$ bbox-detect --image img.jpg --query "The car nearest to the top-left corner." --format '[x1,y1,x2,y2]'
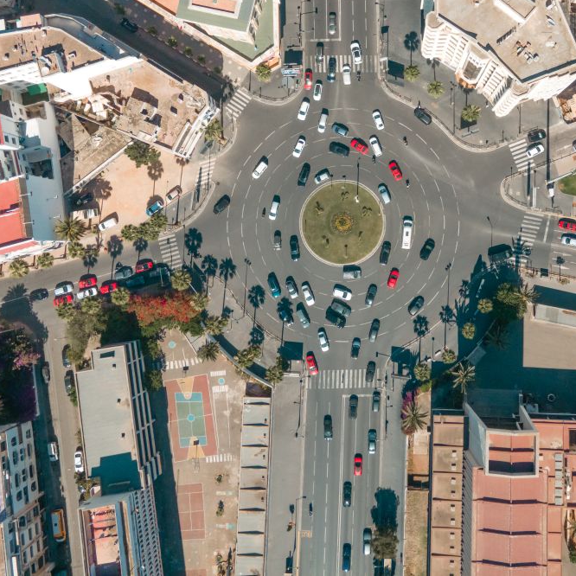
[120,17,139,32]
